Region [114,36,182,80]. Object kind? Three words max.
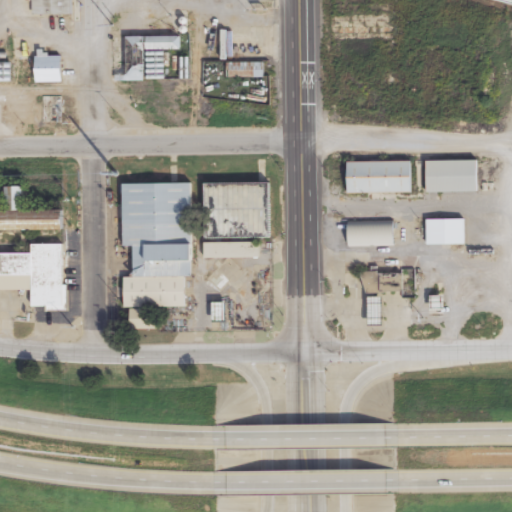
building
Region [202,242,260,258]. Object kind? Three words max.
building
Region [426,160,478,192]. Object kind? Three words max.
shed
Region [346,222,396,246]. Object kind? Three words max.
shed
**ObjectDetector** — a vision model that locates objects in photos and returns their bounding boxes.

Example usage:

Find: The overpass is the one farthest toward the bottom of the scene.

[218,470,394,495]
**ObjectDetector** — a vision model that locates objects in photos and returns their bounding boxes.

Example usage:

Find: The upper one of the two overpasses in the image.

[218,423,394,449]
